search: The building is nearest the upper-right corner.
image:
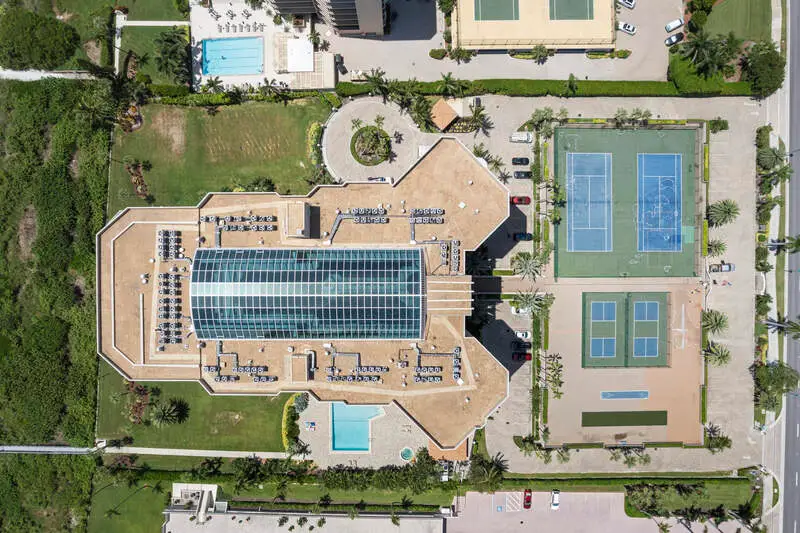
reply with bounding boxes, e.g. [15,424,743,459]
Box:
[452,0,616,53]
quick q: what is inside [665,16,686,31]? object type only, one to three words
car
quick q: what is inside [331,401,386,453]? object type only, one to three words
swimming pool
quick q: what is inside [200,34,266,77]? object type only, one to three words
swimming pool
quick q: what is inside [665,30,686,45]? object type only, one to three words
car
